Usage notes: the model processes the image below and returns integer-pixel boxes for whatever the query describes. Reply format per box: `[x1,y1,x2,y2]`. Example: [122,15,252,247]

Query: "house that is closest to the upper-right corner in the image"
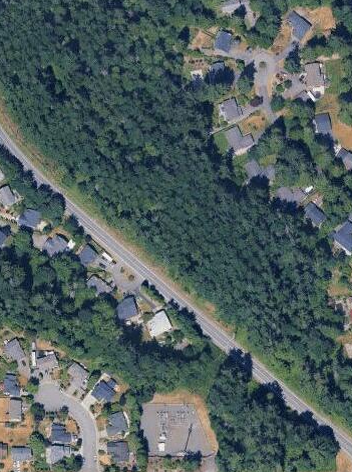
[286,10,313,37]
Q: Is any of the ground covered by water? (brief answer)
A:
No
